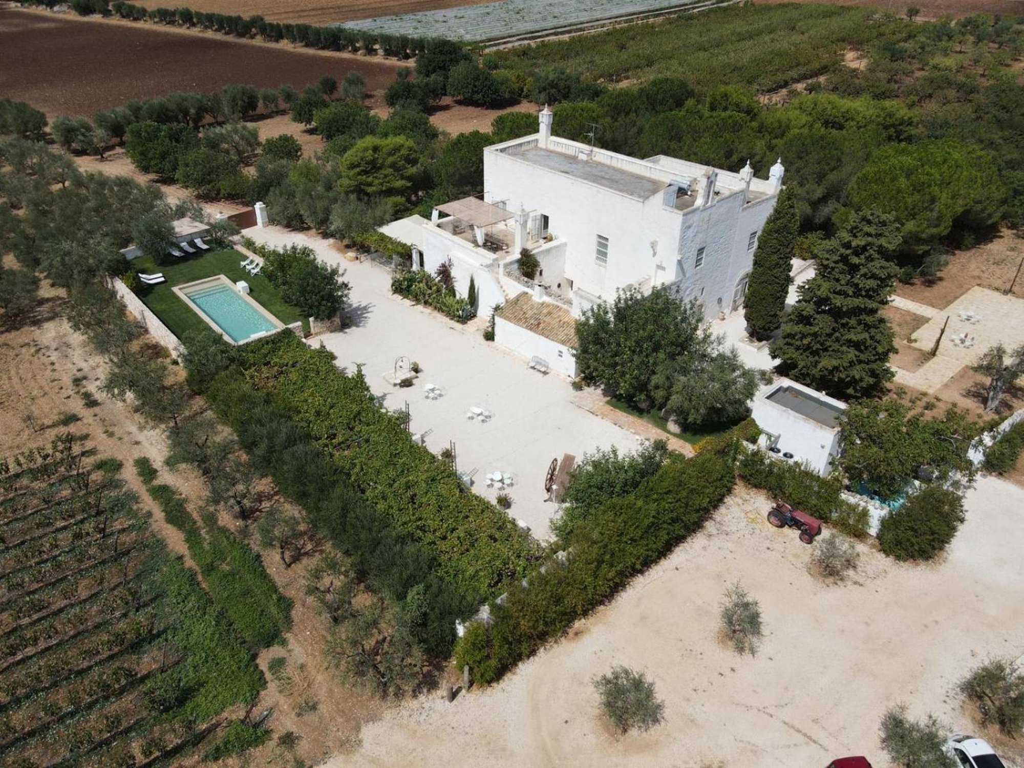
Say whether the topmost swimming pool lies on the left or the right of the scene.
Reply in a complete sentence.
The topmost swimming pool is on the left side of the image.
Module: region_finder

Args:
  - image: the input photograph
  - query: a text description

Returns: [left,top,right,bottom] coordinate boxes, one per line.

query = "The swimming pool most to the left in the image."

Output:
[172,274,287,341]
